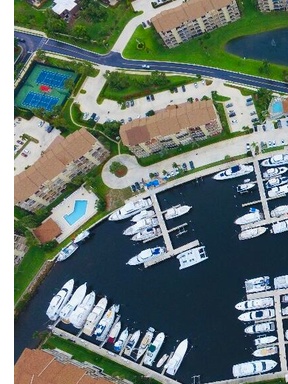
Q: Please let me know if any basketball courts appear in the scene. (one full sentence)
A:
No, the frame has no basketball court in it.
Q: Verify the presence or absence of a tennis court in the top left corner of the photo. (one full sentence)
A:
Yes, a tennis court shows up in the top left corner of the photo.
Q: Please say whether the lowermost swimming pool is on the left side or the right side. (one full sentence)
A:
The lowermost swimming pool is on the left side of the image.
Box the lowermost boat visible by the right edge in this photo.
[231,359,276,376]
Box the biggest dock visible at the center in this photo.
[142,193,199,269]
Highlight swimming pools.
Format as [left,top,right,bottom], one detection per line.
[267,97,288,119]
[41,182,98,241]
